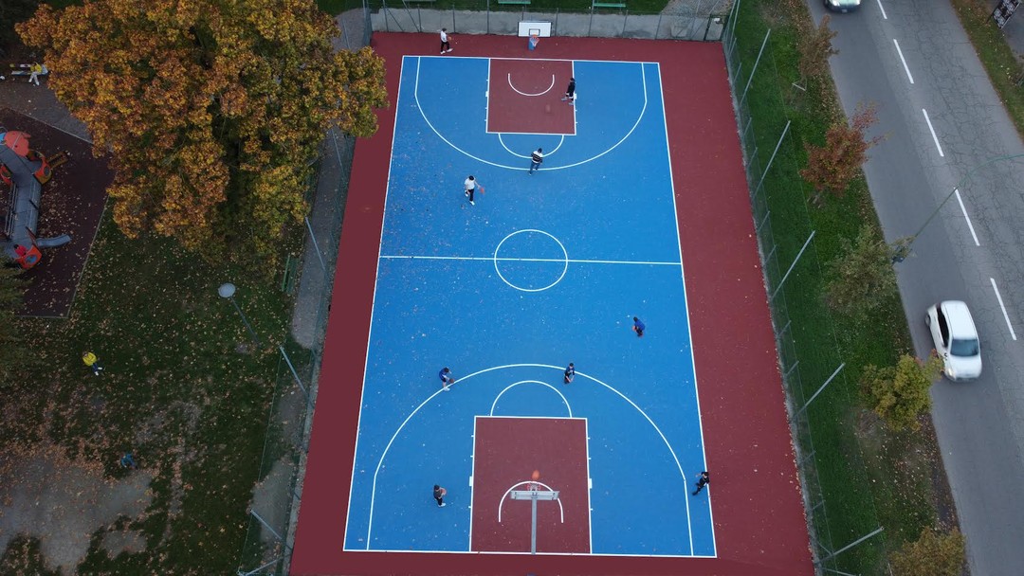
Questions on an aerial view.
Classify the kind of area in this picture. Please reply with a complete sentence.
The area seen from above is a sports ground.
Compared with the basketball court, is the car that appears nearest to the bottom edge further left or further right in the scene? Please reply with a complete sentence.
The car that appears nearest to the bottom edge appears to the right of the basketball court in this view.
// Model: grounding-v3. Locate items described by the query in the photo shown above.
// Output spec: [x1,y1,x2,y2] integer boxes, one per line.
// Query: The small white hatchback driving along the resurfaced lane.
[923,297,988,377]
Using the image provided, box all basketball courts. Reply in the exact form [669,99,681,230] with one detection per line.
[287,31,822,576]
